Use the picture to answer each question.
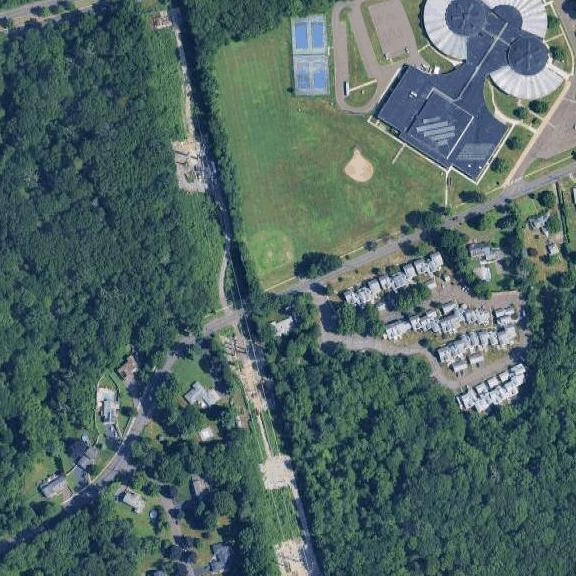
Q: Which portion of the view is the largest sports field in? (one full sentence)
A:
Look in the top portion of the view to spot the largest sports field.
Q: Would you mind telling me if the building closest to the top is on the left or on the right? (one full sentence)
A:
The building closest to the top sits on the right side.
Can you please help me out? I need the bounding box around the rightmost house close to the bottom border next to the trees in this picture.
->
[211,542,231,572]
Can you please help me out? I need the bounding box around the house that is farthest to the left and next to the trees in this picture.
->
[39,473,69,497]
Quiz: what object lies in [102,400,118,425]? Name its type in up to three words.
house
